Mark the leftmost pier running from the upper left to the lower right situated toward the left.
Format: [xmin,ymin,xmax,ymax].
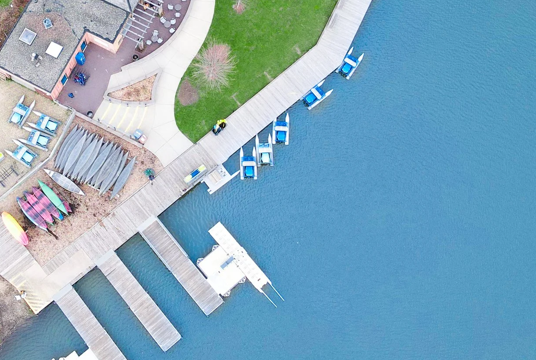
[53,284,127,360]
